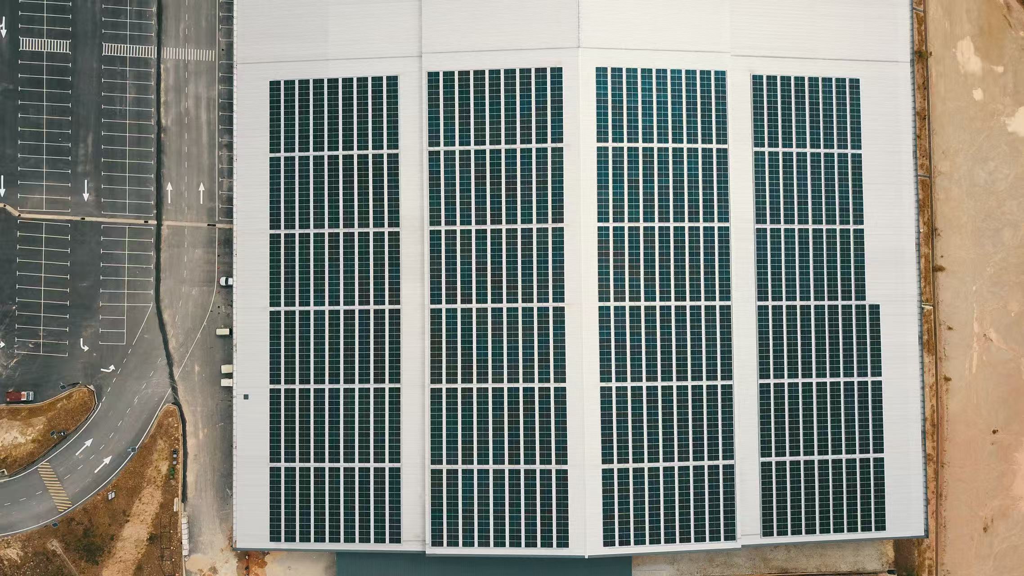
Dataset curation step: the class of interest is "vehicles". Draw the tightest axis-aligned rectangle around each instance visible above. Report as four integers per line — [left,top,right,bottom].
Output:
[222,365,233,375]
[216,327,233,337]
[222,379,233,388]
[218,275,233,287]
[3,391,36,403]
